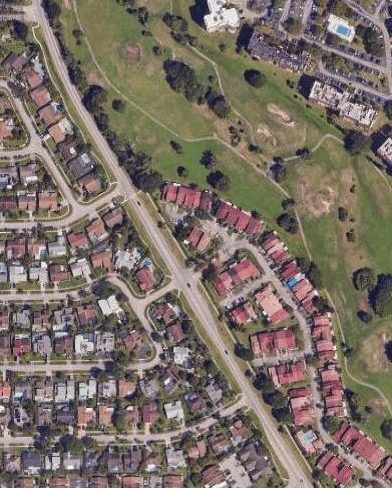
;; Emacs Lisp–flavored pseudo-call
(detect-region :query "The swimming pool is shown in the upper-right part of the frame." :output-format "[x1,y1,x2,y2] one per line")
[328,15,355,43]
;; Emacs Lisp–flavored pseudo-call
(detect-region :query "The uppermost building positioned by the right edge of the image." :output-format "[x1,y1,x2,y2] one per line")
[308,81,379,133]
